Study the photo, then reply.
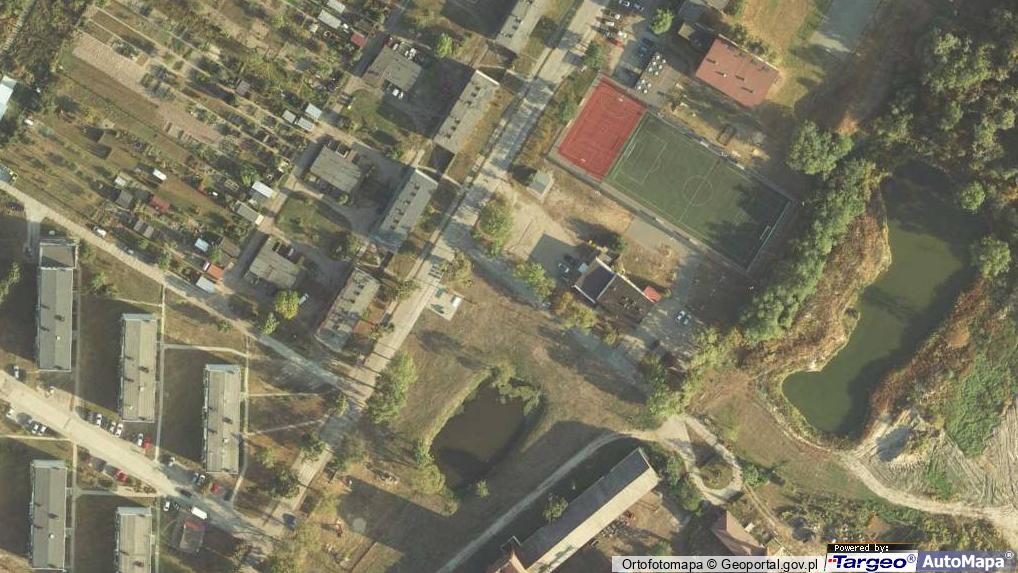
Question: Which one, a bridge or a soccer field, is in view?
soccer field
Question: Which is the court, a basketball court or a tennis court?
basketball court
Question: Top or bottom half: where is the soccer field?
top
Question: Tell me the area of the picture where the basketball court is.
top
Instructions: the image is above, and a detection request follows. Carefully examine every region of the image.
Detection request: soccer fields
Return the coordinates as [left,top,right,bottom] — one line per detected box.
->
[605,113,791,268]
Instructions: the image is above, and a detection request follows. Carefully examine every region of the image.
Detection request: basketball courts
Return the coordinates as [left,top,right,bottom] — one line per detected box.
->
[560,82,645,180]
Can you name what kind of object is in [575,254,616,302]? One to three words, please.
building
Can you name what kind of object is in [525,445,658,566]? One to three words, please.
barn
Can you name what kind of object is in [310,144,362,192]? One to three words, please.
shed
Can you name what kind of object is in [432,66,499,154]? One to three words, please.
house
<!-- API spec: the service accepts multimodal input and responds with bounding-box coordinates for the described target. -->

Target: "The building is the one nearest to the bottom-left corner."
[31,461,70,570]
